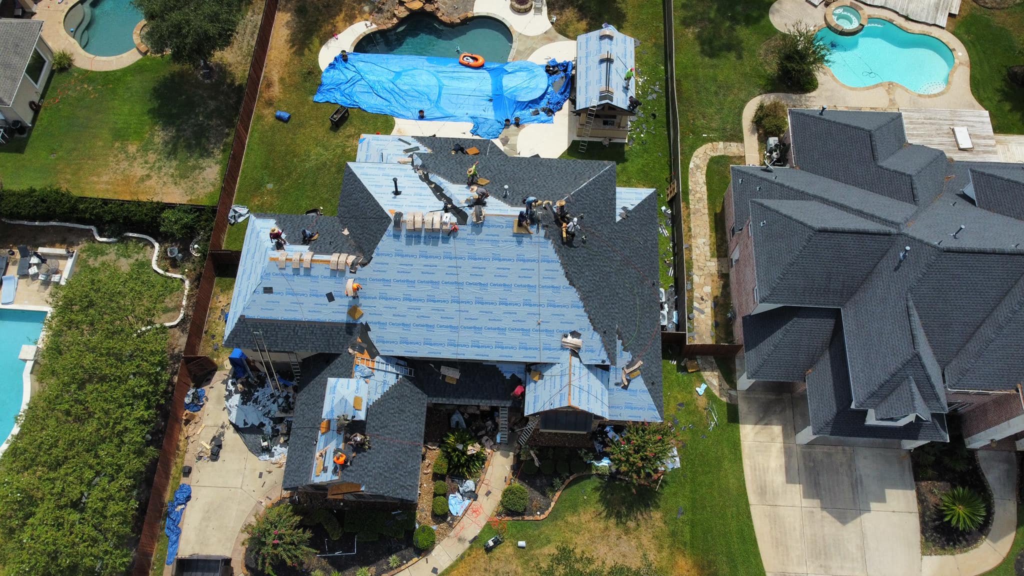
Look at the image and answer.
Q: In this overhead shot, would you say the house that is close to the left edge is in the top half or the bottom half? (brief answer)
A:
top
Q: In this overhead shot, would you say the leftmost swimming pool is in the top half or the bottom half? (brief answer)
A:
bottom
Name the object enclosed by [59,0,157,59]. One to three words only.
swimming pool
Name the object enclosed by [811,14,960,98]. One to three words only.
swimming pool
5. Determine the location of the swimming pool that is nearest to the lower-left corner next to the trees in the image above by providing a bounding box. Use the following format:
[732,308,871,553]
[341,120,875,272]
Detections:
[0,303,52,459]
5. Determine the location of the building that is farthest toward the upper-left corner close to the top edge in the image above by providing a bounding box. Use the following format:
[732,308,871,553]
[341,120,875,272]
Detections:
[0,0,64,127]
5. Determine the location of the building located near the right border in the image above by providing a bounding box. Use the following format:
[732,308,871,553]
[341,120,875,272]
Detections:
[725,108,1024,448]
